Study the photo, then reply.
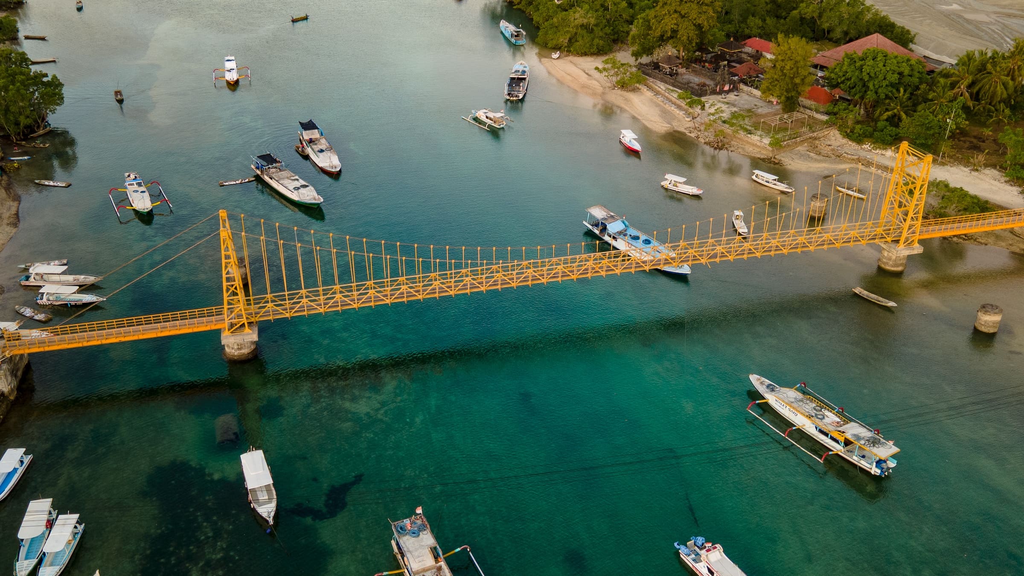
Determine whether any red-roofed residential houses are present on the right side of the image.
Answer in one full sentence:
Yes, a red-roofed residential house shows up on the right side of the image.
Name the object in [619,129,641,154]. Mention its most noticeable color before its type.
white boat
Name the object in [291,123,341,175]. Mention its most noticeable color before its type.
white boat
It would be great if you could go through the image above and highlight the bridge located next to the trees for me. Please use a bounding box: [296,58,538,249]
[0,142,1024,362]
